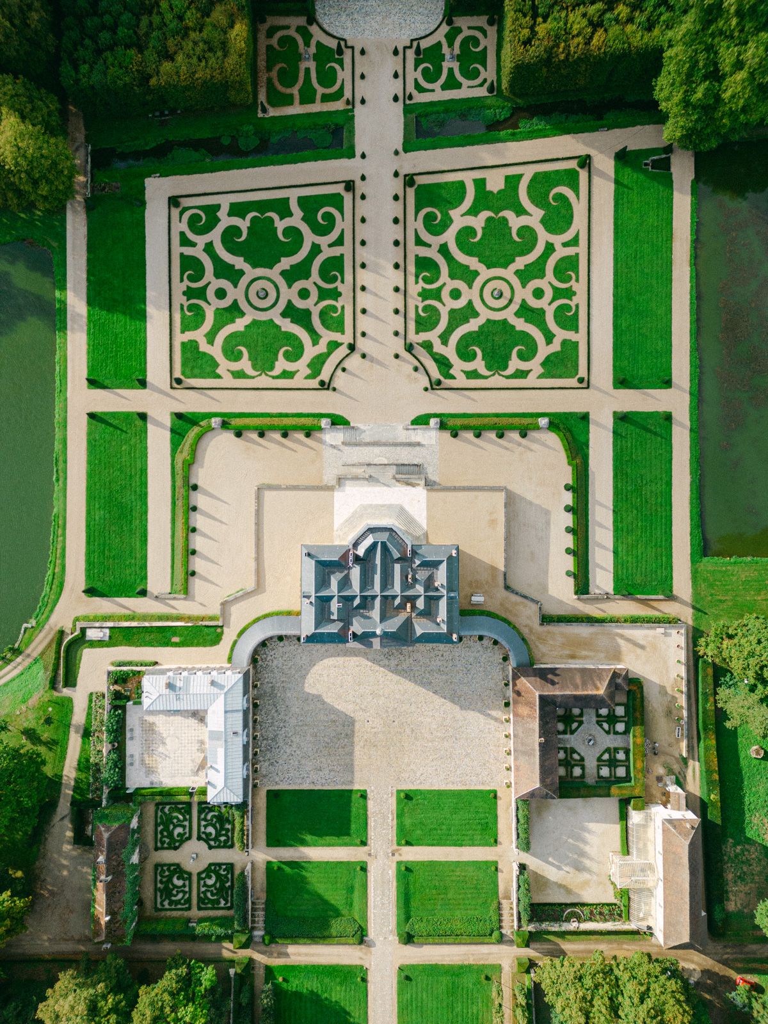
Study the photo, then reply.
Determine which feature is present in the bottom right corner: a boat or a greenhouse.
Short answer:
greenhouse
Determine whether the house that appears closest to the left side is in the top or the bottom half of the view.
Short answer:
bottom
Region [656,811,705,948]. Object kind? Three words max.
barn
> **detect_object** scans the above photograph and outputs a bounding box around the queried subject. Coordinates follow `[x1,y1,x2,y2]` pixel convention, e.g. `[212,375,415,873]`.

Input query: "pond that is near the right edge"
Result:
[695,143,768,555]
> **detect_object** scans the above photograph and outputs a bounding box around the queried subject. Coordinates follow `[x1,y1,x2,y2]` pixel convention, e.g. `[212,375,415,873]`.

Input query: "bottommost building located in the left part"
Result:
[88,800,142,948]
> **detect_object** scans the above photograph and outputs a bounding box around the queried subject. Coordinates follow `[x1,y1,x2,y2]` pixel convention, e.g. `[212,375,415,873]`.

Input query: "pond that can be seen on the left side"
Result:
[0,239,56,645]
